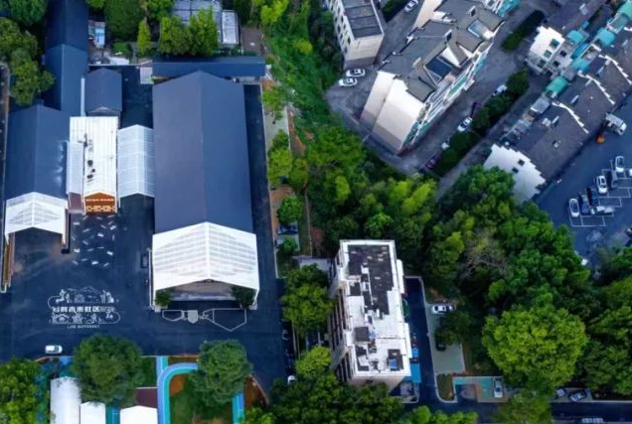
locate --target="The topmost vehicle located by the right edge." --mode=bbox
[605,109,628,131]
